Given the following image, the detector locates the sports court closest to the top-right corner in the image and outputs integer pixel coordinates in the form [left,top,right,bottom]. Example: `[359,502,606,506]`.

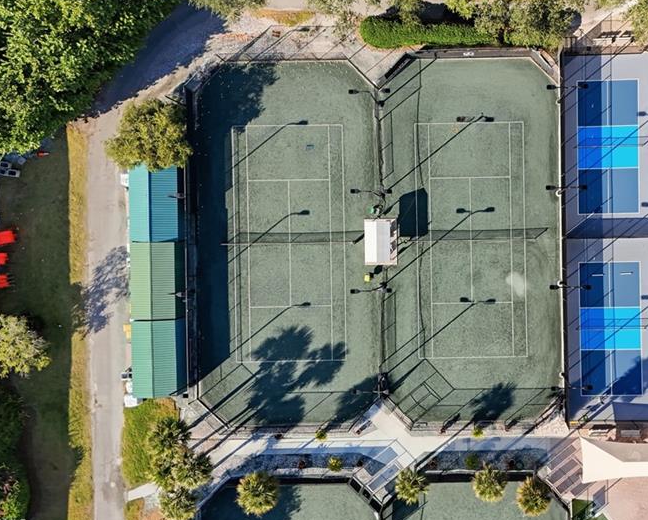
[573,79,645,214]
